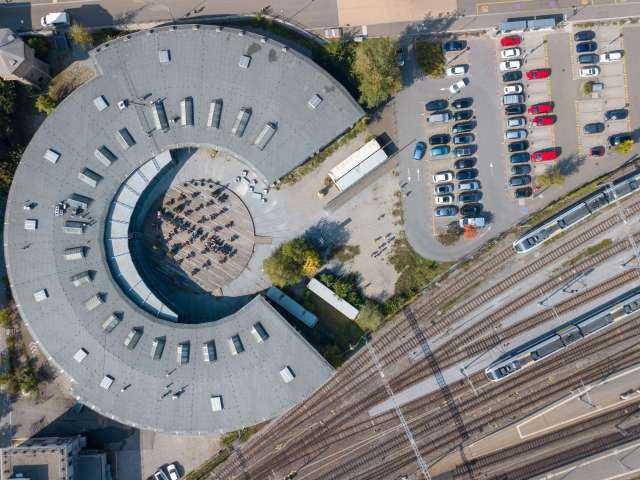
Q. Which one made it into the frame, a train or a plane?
train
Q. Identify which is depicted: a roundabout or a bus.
bus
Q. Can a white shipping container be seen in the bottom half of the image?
No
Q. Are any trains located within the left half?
No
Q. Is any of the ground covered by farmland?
No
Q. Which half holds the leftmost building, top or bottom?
bottom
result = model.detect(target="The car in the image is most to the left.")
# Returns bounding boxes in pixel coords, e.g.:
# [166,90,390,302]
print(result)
[42,13,69,26]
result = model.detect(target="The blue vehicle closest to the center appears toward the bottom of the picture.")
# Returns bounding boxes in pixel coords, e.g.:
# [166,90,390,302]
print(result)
[267,286,318,328]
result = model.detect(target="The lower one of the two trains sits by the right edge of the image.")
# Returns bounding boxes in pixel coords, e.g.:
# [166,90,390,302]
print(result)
[480,291,640,376]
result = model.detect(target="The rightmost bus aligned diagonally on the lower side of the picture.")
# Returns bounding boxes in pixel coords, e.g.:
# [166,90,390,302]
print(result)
[308,278,356,319]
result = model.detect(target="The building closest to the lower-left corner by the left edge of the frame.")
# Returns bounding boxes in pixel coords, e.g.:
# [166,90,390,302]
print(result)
[0,435,87,480]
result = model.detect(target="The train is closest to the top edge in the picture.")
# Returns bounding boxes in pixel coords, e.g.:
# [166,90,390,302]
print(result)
[508,171,640,252]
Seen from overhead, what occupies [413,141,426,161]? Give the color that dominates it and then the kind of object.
blue vehicle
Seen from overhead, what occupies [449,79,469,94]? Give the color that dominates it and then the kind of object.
white car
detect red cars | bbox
[531,151,558,162]
[500,36,521,47]
[531,115,555,127]
[526,69,550,80]
[528,103,553,115]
